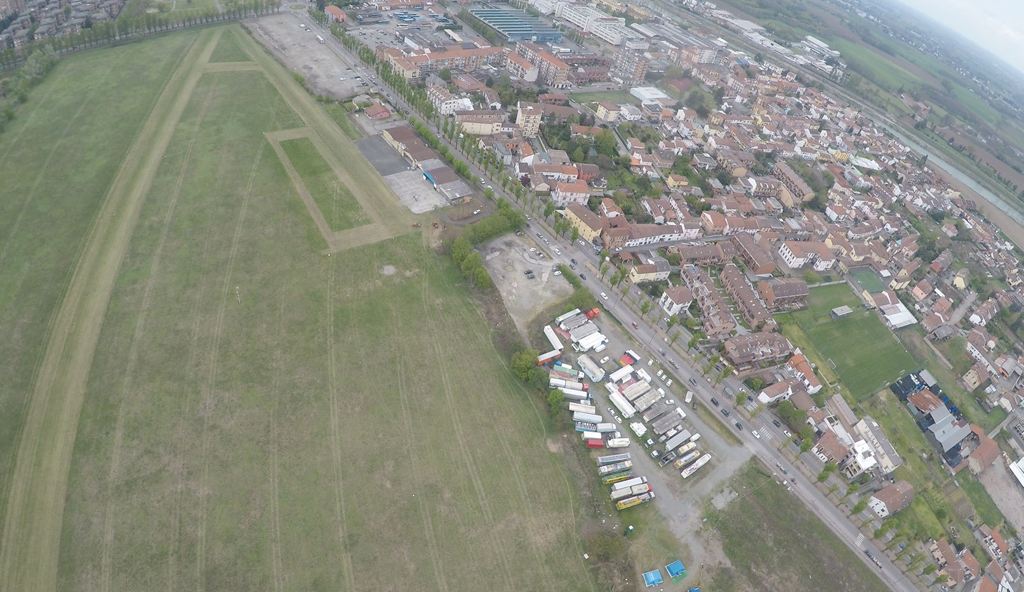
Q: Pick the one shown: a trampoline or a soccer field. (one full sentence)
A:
The one in the frame is a soccer field.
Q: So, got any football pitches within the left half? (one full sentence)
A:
No, there is no football pitch within the left half.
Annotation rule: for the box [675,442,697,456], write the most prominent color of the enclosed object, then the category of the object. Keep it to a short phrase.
white vehicle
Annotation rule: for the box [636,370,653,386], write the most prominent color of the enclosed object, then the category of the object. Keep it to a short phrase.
white camper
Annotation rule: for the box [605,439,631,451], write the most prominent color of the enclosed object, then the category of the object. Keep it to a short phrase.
white vehicle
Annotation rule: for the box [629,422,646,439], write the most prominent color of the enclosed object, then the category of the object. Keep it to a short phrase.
white camper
